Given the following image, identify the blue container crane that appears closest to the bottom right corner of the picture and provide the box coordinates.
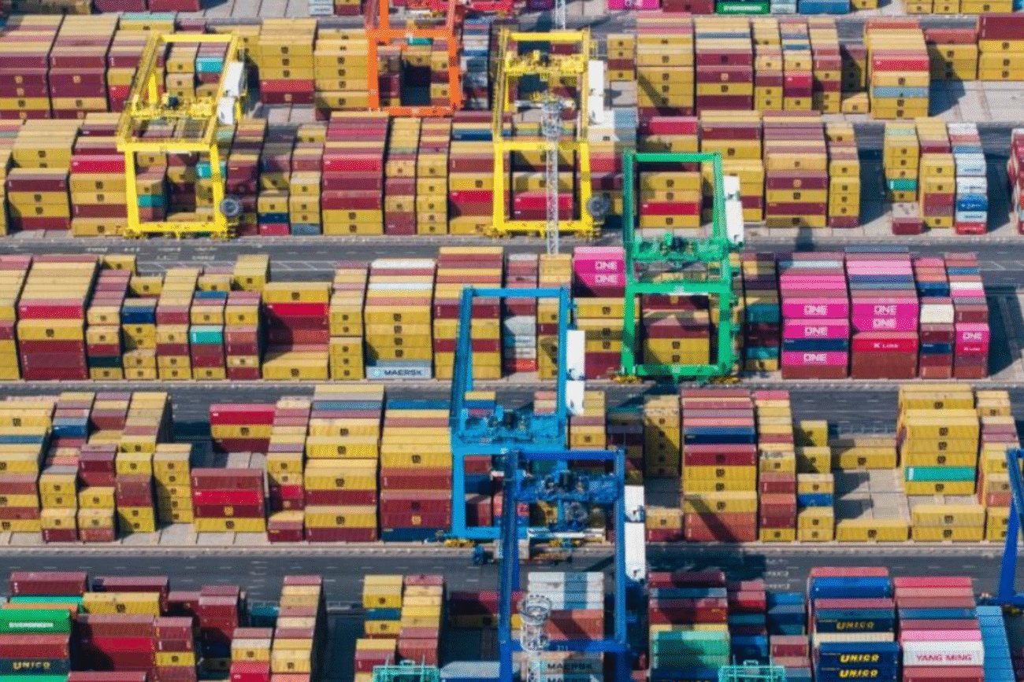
[987,443,1024,605]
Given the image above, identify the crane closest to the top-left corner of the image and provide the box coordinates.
[112,27,251,239]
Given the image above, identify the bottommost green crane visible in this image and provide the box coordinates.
[615,150,749,385]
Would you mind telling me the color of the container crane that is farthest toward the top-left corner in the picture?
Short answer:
yellow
